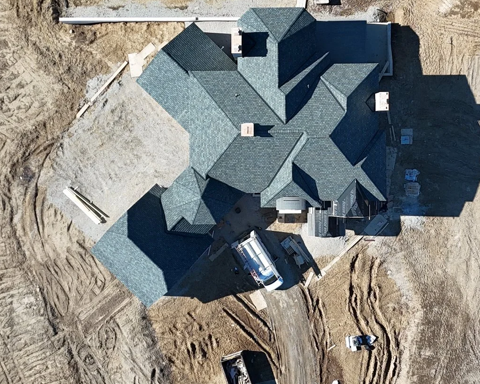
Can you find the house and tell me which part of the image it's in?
center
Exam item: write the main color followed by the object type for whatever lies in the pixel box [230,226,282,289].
white van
